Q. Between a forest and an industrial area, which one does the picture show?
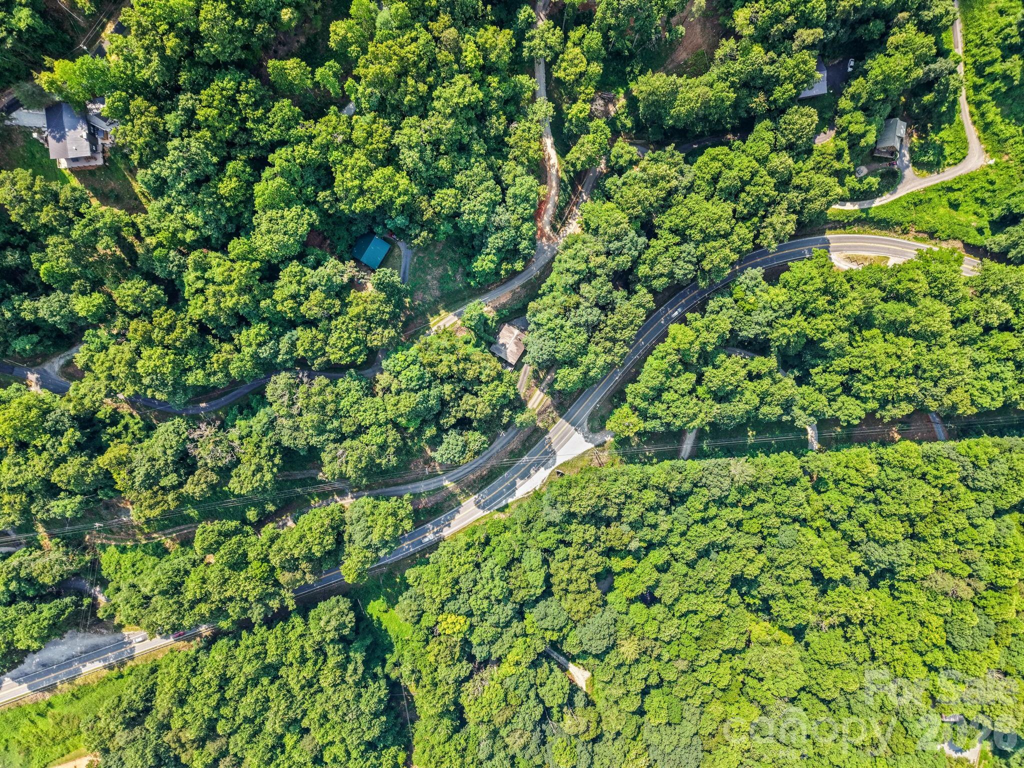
forest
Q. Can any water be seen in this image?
No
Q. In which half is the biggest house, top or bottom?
top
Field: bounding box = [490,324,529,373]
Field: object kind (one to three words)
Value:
house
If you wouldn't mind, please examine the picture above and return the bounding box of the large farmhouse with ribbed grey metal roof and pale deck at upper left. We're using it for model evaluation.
[33,103,116,170]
